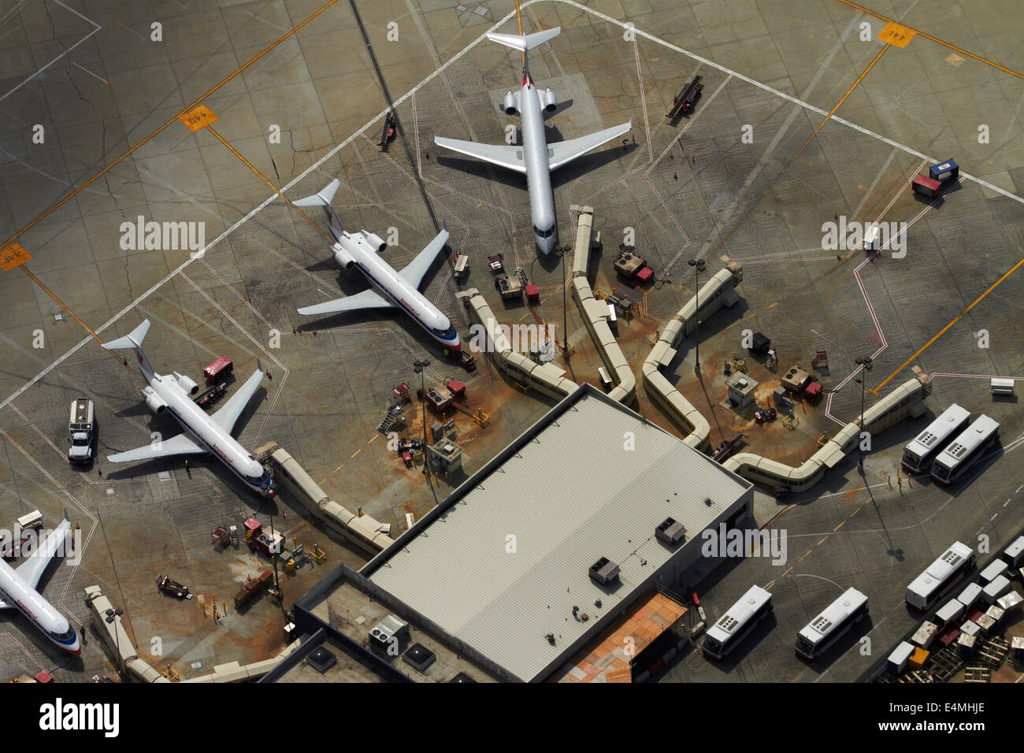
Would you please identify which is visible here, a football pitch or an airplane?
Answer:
airplane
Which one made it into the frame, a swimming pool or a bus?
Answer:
bus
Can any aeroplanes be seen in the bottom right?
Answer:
No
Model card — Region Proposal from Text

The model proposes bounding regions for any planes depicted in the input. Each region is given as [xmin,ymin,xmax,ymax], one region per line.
[0,509,81,653]
[101,324,274,498]
[429,31,635,256]
[291,183,460,352]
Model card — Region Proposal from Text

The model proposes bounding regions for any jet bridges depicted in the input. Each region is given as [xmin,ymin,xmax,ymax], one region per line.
[642,256,746,455]
[253,441,393,563]
[567,204,636,411]
[84,589,315,714]
[722,366,935,502]
[455,288,583,408]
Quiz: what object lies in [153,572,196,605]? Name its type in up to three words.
work vehicle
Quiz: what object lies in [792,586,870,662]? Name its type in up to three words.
bus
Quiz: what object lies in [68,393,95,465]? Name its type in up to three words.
truck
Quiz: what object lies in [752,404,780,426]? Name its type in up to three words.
work vehicle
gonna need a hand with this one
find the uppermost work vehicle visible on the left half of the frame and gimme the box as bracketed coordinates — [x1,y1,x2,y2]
[379,113,402,146]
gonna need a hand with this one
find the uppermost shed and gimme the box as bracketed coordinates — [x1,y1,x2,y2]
[724,370,761,412]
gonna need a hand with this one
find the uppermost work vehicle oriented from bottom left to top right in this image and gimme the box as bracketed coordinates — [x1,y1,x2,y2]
[667,75,704,119]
